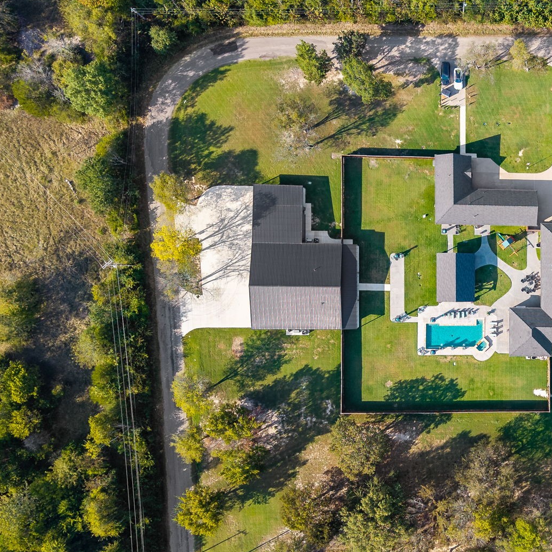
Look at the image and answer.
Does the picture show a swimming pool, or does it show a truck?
swimming pool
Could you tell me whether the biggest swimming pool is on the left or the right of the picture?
right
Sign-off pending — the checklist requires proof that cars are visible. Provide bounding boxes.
[440,63,451,88]
[452,69,464,91]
